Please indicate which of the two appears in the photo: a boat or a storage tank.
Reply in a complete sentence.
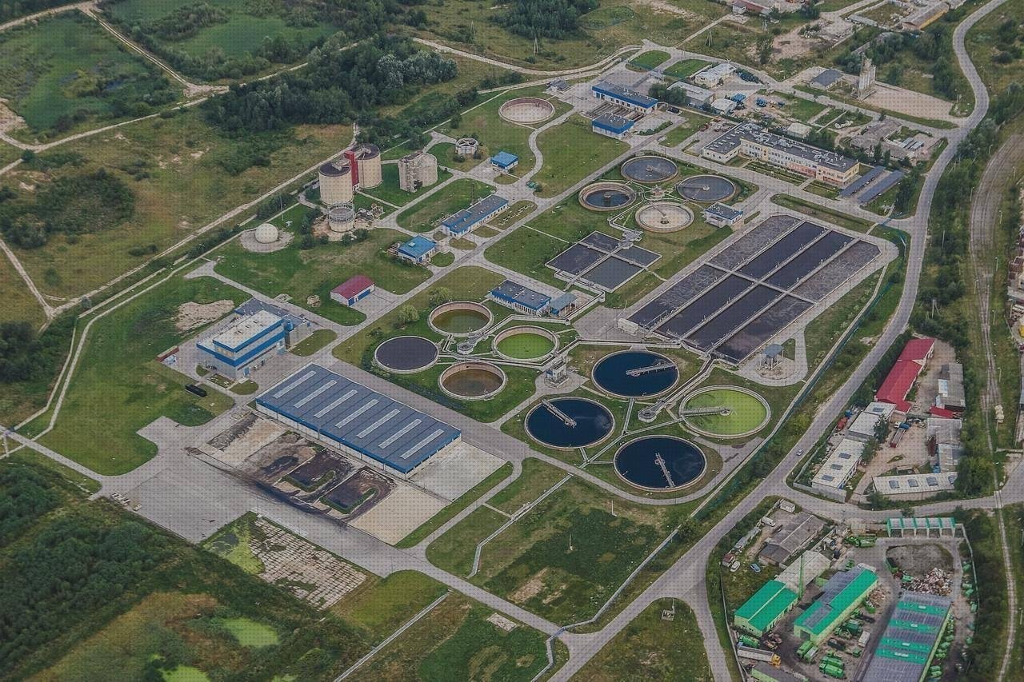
The one in the frame is a storage tank.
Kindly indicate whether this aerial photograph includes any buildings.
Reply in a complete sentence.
Yes, this view includes a building.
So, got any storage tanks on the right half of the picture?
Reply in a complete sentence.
Yes, the scene does show a storage tank on the right half of the picture.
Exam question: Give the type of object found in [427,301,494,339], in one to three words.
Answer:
storage tank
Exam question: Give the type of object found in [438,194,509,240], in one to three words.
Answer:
building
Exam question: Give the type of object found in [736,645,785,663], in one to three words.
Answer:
vehicle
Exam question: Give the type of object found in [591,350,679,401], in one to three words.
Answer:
storage tank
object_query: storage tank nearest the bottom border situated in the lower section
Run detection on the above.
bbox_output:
[613,435,707,493]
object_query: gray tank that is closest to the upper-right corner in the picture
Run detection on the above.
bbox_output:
[676,175,735,204]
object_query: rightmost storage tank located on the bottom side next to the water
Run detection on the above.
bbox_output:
[679,386,772,441]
